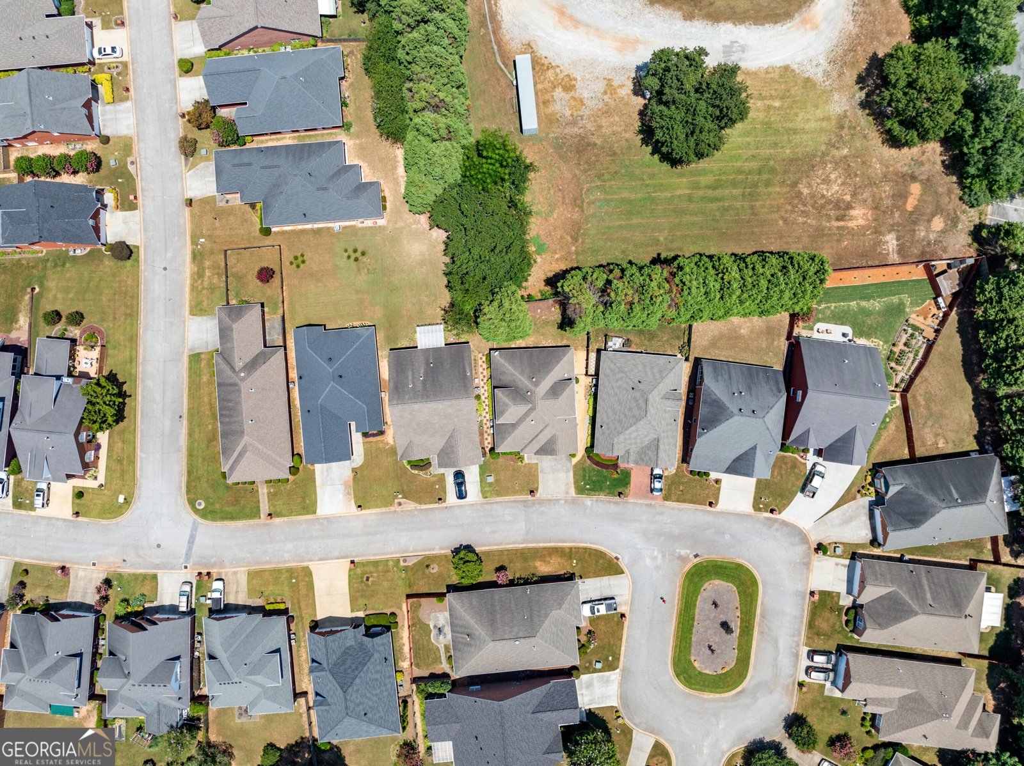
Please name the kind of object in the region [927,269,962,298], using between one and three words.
shed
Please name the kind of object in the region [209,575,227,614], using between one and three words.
vehicle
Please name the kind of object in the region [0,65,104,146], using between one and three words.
house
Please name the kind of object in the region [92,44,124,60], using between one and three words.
car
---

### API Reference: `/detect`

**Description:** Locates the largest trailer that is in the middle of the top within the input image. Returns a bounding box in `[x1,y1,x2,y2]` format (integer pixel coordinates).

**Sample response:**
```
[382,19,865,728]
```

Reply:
[515,54,537,135]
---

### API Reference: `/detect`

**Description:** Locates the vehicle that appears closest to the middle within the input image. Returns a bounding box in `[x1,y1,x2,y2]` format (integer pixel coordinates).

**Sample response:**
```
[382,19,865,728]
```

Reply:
[452,471,467,501]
